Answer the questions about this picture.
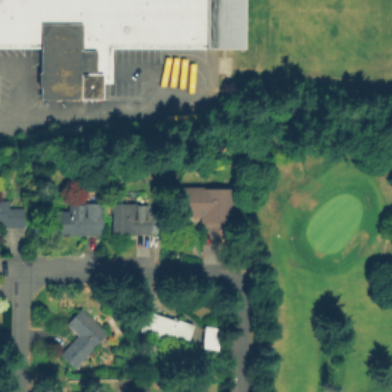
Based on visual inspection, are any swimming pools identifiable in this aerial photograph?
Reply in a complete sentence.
No, the picture doesn't show any swimming pool.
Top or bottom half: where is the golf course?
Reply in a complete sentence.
The golf course is in the bottom half of the image.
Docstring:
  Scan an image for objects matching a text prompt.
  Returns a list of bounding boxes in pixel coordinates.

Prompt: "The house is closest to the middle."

[186,188,233,230]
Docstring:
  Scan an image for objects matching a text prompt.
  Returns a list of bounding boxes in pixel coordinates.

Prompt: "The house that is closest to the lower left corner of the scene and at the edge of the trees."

[64,308,108,368]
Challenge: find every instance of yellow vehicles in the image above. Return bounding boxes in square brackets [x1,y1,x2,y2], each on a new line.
[170,57,180,90]
[180,58,189,91]
[161,56,172,89]
[188,63,198,96]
